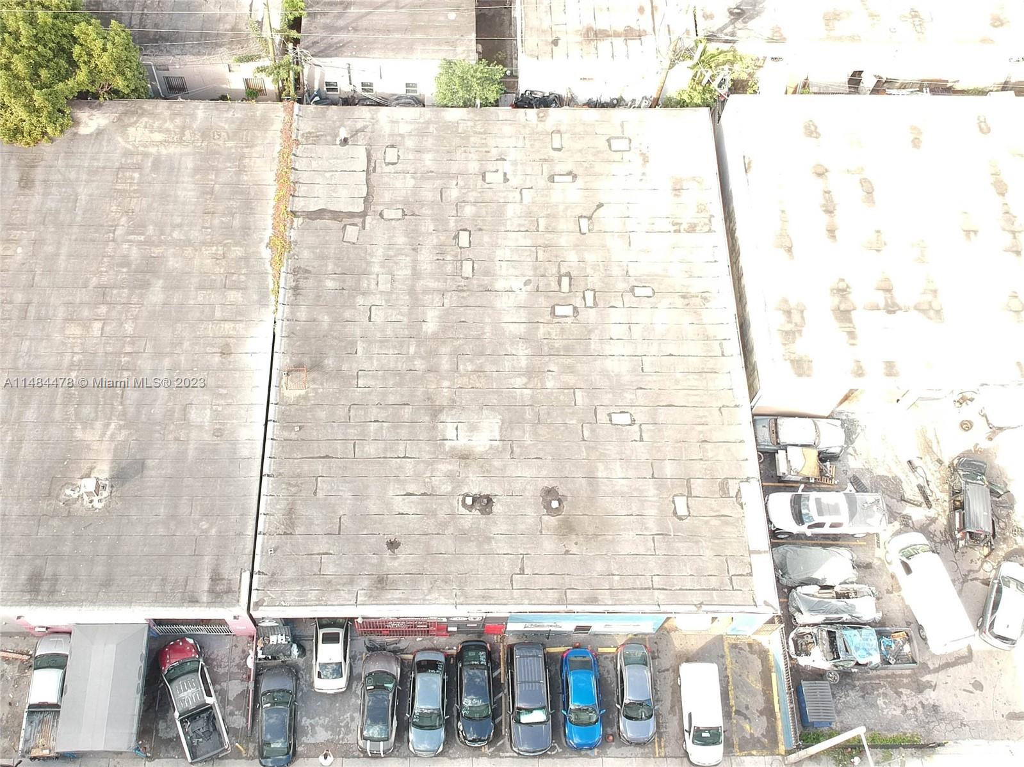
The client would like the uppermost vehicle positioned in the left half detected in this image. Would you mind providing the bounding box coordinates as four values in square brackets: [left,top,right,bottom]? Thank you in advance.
[309,622,352,694]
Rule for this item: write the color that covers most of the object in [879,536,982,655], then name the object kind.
white van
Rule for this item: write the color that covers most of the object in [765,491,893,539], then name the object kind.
white truck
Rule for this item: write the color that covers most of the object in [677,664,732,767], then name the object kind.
white van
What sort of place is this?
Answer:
industrial area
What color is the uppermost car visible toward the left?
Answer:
white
